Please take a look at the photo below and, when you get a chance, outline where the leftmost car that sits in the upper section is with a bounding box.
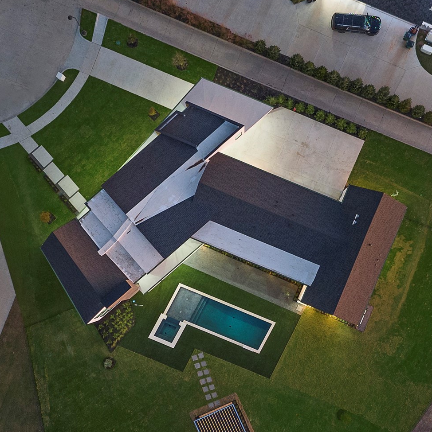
[331,11,382,37]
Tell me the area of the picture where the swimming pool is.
bottom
